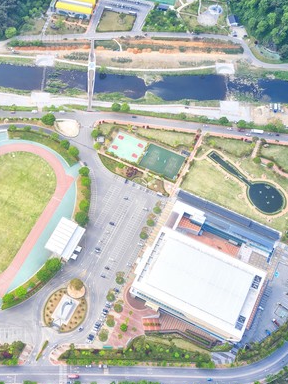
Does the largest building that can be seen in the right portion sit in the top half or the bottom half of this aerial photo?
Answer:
bottom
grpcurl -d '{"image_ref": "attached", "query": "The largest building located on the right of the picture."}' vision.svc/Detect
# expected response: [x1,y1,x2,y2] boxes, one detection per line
[131,201,266,338]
